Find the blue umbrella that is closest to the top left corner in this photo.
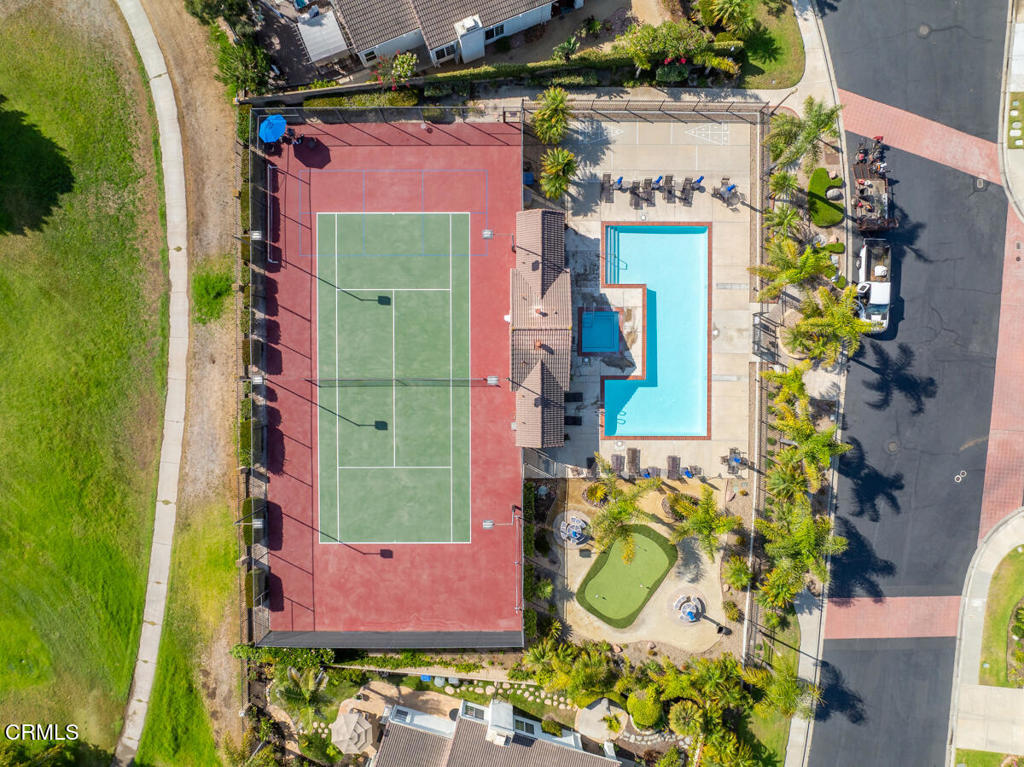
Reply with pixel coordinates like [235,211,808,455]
[259,115,288,145]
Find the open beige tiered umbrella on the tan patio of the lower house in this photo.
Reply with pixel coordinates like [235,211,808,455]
[332,707,376,752]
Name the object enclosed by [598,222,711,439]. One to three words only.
swimming pool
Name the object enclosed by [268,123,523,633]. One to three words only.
tennis court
